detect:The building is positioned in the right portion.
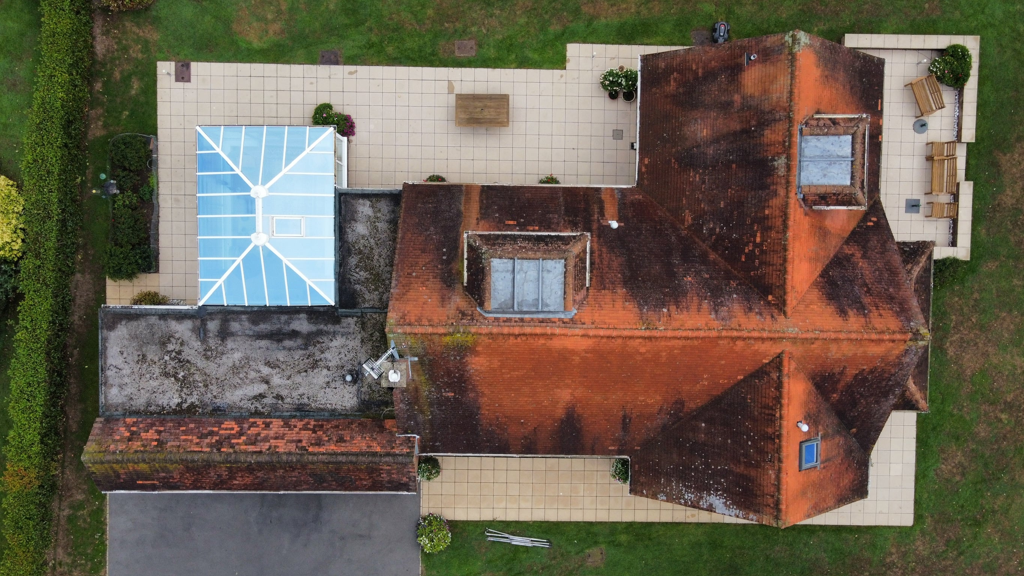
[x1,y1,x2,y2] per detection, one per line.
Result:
[385,30,937,529]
